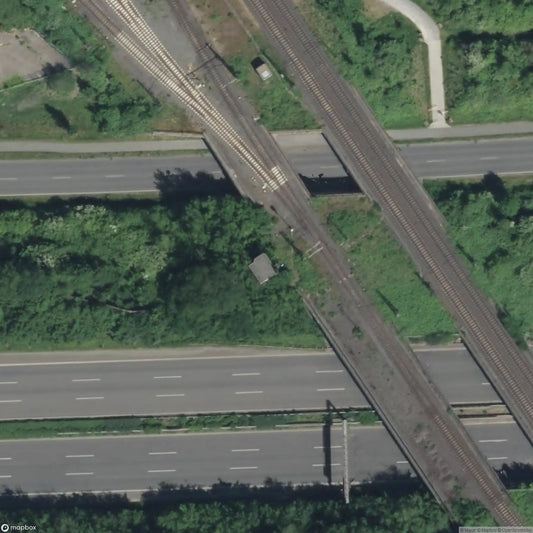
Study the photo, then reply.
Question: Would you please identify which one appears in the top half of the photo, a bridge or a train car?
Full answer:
It is a bridge that can be seen in the top half of the photo.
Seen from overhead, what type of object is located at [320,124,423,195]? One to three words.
bridge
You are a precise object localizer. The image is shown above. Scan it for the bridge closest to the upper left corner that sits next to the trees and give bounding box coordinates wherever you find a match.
[204,128,310,200]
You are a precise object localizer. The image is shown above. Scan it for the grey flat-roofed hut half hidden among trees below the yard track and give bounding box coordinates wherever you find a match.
[249,255,275,283]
